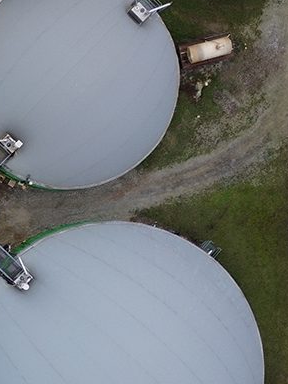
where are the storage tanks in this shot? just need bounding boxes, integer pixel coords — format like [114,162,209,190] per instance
[0,0,180,190]
[175,34,234,71]
[0,218,265,384]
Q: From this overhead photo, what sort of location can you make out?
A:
industrial area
